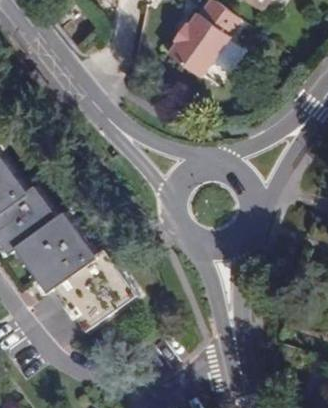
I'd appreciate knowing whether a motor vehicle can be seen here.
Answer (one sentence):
Yes, a motor vehicle appears in the view.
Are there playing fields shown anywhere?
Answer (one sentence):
No, this view has no playing field in it.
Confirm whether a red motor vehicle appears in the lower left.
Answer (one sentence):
No, there's no red motor vehicle to be seen in the lower left.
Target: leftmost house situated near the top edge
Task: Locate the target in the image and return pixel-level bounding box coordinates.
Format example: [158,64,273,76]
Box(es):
[168,0,248,79]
